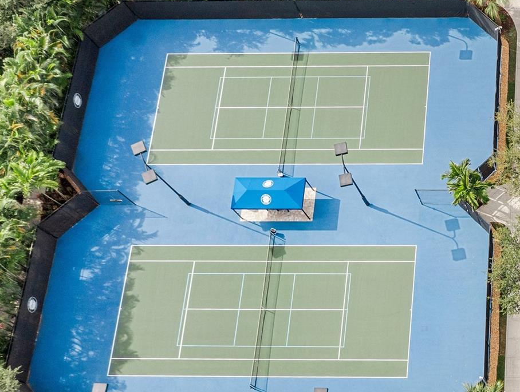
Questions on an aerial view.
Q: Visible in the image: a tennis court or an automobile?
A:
tennis court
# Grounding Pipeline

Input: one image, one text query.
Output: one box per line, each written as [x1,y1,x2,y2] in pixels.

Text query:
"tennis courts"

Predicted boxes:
[108,246,416,377]
[147,51,431,165]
